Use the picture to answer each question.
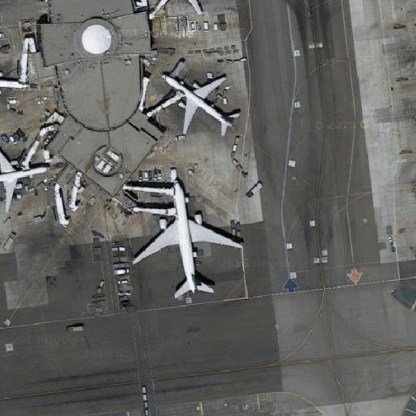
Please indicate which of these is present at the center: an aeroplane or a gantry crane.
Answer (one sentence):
Looking at the center, you will find an aeroplane.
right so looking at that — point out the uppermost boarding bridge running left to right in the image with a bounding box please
[120,183,174,195]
